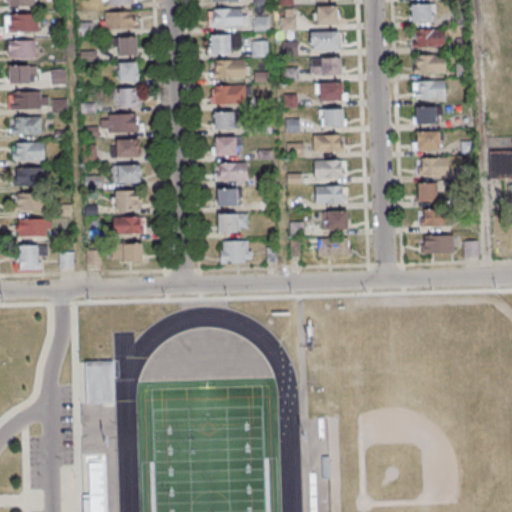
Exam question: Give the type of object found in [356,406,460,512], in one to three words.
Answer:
baseball field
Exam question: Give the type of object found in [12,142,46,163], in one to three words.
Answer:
house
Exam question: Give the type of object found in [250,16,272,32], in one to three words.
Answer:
building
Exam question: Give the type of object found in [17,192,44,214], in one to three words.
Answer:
house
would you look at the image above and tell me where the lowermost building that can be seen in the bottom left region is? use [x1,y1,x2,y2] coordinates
[84,360,116,408]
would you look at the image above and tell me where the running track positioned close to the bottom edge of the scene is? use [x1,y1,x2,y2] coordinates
[114,308,304,512]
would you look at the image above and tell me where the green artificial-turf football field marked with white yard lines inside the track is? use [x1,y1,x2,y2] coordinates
[138,378,283,512]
